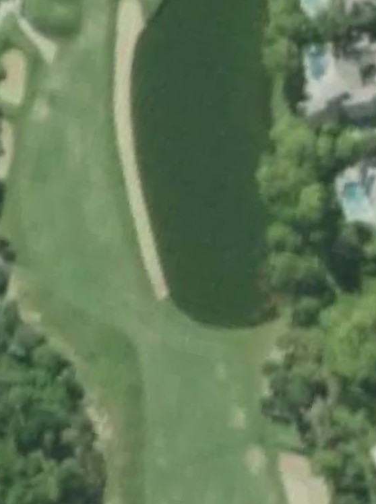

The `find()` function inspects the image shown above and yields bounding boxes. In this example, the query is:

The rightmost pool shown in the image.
[337,165,375,227]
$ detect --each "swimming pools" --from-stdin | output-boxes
[302,42,333,84]
[300,0,329,16]
[337,165,375,227]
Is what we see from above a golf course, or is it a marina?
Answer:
golf course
